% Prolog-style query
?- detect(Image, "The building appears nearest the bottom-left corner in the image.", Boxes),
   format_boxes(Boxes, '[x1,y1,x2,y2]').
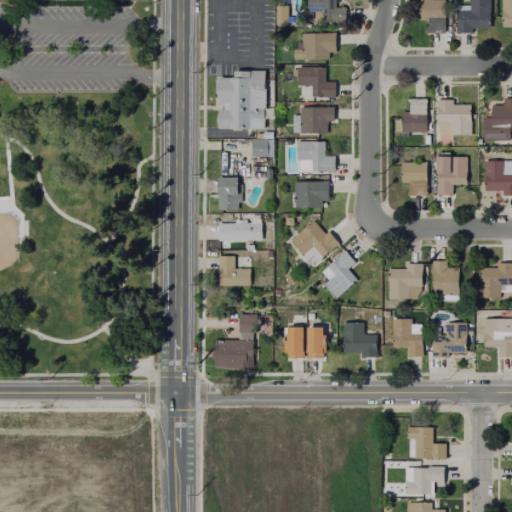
[214,340,256,370]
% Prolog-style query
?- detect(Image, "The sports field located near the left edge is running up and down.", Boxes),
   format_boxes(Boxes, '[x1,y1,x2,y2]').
[0,197,29,270]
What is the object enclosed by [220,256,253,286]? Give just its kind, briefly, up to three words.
house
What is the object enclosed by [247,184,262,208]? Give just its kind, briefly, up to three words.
swimming pool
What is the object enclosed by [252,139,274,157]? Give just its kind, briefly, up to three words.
building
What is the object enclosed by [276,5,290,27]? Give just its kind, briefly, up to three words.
shed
